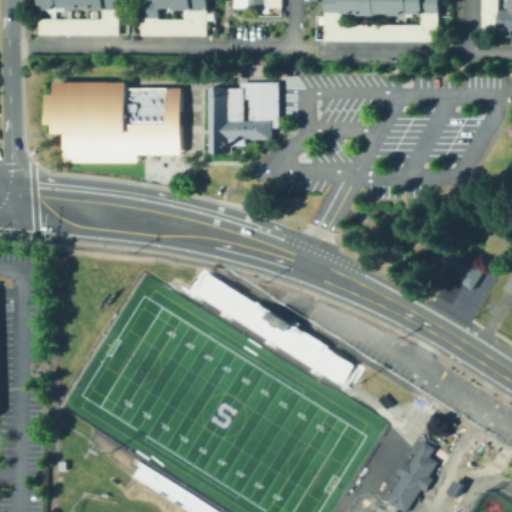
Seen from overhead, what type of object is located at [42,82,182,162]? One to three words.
building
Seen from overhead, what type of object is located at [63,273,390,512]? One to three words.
sports field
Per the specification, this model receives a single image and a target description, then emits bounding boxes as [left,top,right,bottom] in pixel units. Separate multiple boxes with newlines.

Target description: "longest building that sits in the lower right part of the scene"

[386,439,438,507]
